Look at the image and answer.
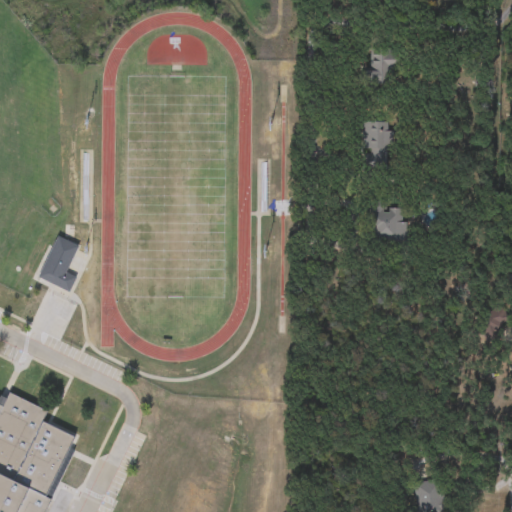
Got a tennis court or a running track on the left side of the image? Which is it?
running track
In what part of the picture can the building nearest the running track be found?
left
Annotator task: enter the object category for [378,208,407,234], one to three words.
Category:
house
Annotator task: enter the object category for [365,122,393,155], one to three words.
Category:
house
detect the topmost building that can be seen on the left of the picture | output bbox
[40,236,79,292]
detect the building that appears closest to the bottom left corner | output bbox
[0,387,81,512]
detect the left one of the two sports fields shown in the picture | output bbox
[0,0,64,296]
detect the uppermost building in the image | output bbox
[371,55,396,81]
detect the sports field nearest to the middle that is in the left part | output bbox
[128,76,226,297]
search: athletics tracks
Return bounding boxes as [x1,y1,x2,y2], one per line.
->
[101,12,251,361]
